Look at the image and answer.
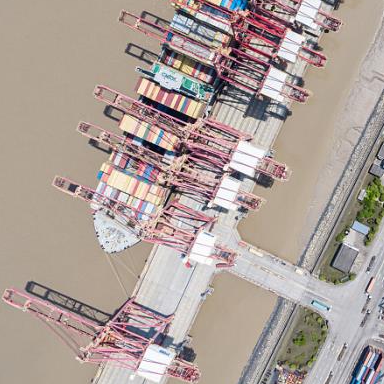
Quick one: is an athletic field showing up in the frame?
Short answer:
No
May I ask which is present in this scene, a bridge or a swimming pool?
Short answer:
bridge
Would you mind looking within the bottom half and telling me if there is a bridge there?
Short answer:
Yes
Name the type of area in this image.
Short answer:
port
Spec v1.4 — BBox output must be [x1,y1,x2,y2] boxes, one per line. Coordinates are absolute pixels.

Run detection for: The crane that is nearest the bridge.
[53,171,245,268]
